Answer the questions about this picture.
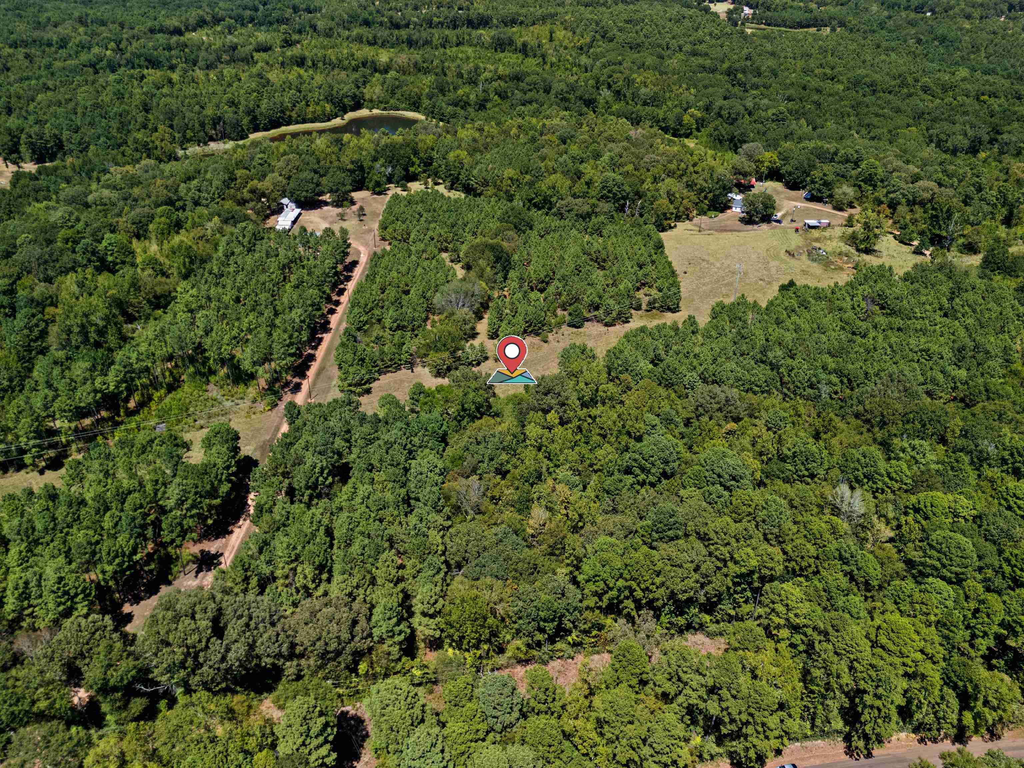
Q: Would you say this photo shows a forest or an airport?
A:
forest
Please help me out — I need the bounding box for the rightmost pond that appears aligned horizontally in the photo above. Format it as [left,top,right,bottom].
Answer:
[260,115,425,147]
